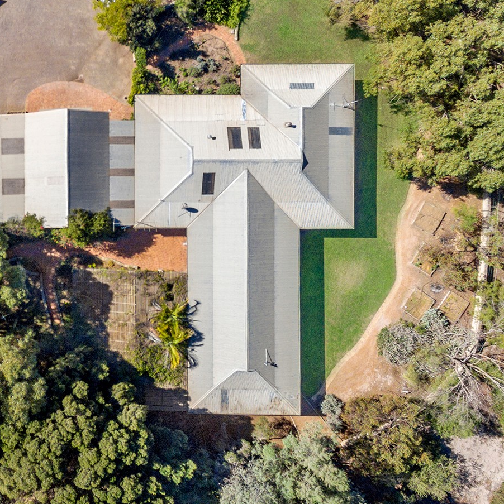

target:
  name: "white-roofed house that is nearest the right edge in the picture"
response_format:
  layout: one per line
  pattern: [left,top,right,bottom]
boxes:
[133,63,355,416]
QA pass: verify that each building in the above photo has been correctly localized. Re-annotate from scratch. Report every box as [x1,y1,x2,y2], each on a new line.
[133,63,355,416]
[24,108,110,228]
